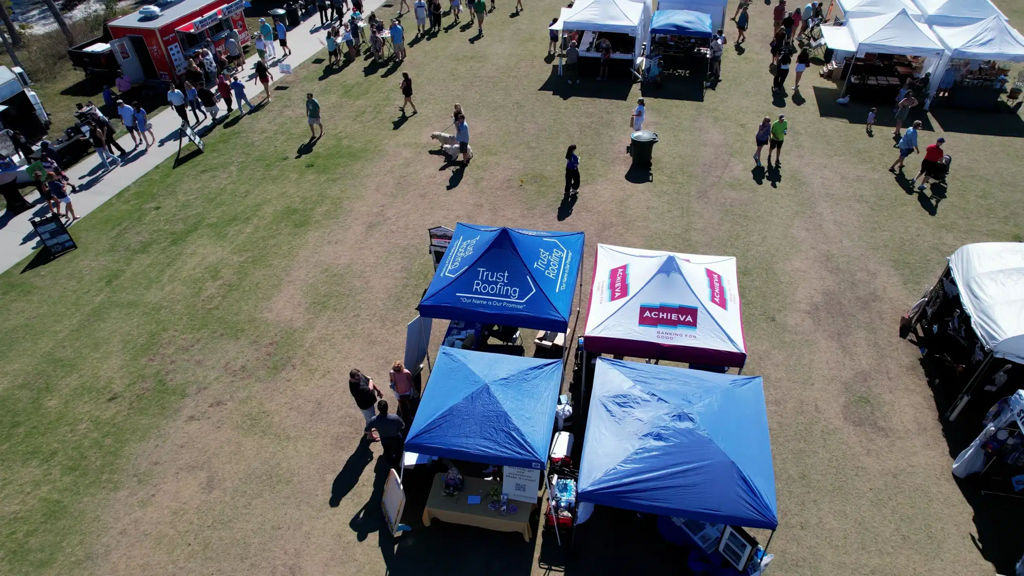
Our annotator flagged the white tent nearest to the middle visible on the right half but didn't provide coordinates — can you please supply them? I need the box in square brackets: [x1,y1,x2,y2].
[578,244,747,417]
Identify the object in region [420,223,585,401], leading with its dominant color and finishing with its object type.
blue tent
